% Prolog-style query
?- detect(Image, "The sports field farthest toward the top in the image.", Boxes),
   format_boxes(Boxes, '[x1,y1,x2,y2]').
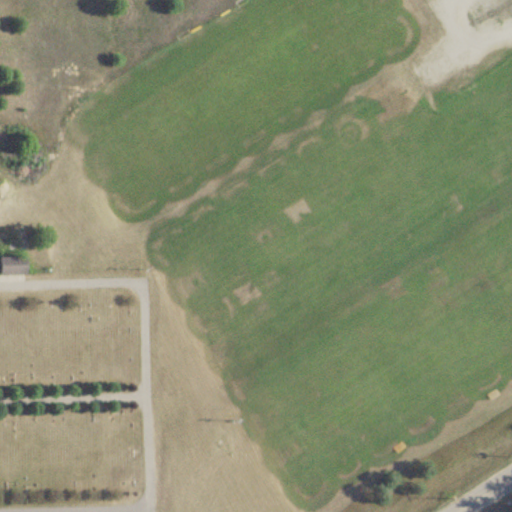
[76,0,422,226]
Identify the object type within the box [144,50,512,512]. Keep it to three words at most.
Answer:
sports field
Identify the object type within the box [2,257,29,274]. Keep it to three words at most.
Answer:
house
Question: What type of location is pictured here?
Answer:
sports ground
